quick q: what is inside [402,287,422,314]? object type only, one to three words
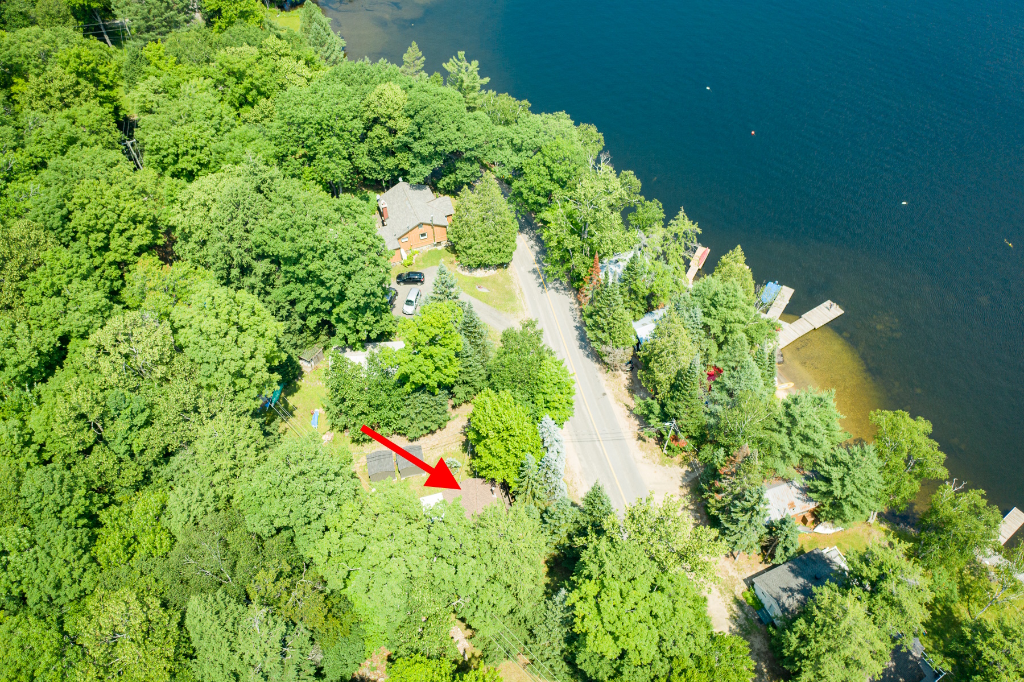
car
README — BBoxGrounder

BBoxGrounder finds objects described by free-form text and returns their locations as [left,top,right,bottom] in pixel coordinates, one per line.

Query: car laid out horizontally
[395,271,425,285]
